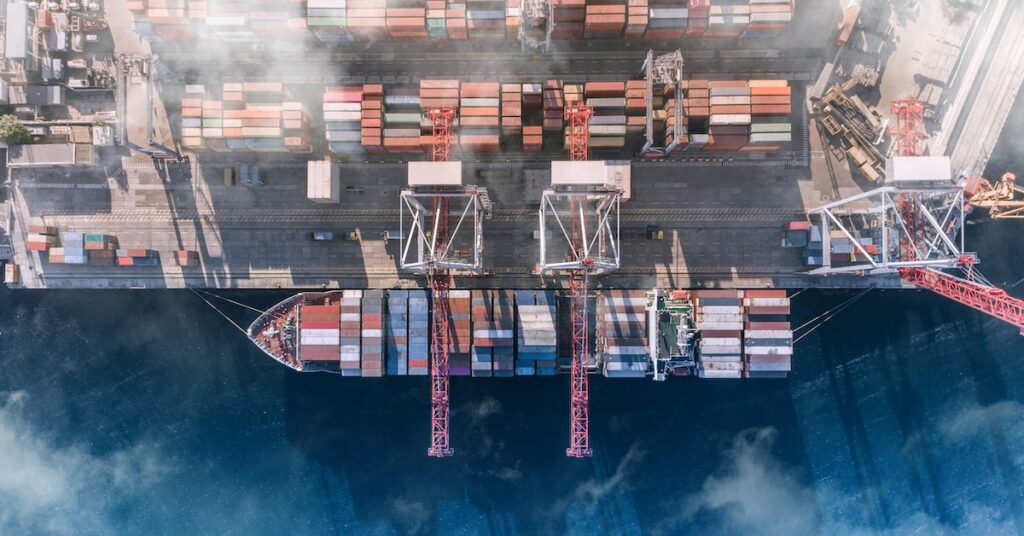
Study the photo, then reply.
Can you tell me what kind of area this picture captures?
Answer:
port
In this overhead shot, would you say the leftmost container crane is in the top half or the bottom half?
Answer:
top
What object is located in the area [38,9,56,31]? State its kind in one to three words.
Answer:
building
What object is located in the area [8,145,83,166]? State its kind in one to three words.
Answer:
building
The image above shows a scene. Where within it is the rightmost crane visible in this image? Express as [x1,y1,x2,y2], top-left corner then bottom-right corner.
[961,172,1024,210]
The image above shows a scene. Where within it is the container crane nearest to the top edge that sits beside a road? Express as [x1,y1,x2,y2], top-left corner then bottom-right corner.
[515,0,554,56]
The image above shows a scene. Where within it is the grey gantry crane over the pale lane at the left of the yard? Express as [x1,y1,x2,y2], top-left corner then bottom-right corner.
[117,53,184,156]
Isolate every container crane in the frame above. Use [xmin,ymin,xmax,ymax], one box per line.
[525,101,628,457]
[399,101,495,457]
[515,0,554,56]
[117,53,184,156]
[634,49,683,156]
[797,101,1024,332]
